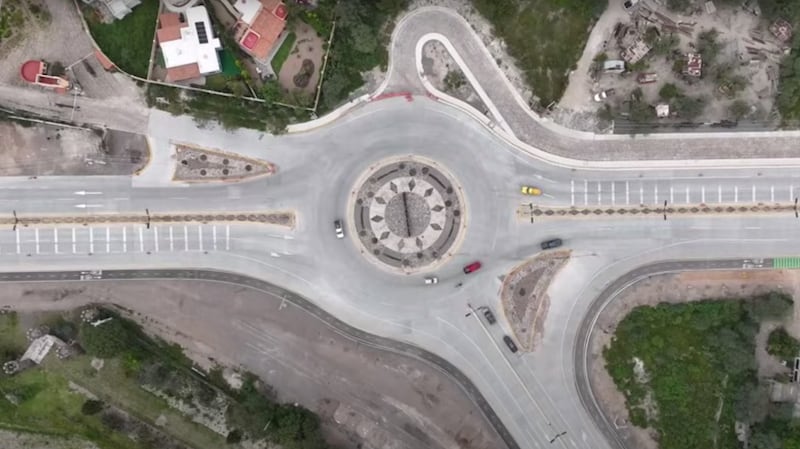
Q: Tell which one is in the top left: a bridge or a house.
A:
house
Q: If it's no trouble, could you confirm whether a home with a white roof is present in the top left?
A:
Yes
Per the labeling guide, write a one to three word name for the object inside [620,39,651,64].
shed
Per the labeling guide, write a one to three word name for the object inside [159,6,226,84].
house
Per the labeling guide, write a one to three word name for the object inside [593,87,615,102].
vehicle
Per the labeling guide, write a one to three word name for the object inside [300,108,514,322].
roundabout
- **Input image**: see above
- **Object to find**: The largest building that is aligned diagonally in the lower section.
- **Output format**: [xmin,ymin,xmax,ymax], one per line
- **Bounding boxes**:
[20,333,71,369]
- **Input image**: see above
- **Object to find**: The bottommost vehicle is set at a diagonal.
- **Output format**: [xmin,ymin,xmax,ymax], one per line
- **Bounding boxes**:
[503,333,518,353]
